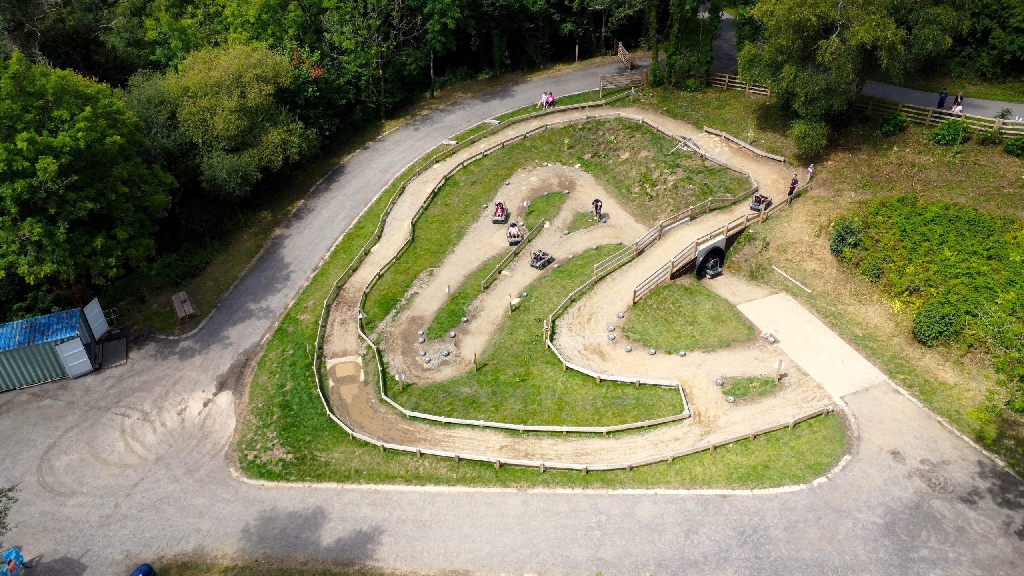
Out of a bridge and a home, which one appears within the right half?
bridge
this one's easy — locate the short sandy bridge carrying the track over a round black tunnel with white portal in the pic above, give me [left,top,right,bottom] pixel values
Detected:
[576,194,787,312]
